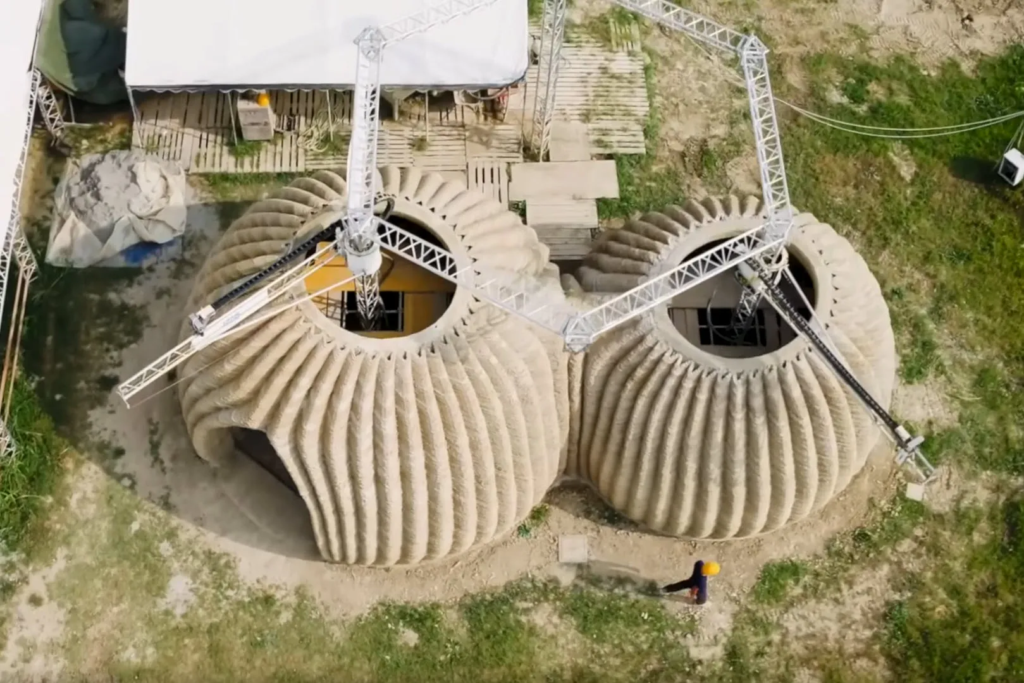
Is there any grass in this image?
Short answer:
Yes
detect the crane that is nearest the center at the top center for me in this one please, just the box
[339,0,795,361]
